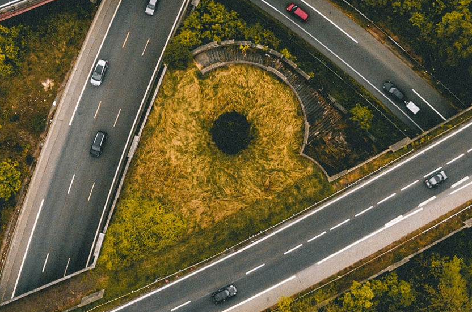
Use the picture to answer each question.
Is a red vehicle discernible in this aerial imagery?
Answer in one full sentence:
Yes, looking at the shot, I can spot a red vehicle.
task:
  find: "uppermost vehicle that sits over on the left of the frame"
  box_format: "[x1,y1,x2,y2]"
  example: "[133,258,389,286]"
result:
[142,0,159,15]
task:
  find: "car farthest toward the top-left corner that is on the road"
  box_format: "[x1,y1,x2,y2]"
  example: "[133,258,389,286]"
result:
[87,57,111,86]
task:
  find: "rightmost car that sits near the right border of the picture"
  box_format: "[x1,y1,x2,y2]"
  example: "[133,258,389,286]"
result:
[423,169,449,189]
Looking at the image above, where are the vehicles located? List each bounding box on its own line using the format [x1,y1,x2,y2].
[423,169,449,189]
[286,2,311,23]
[210,285,237,306]
[87,57,111,86]
[142,0,159,15]
[382,79,408,102]
[88,129,108,157]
